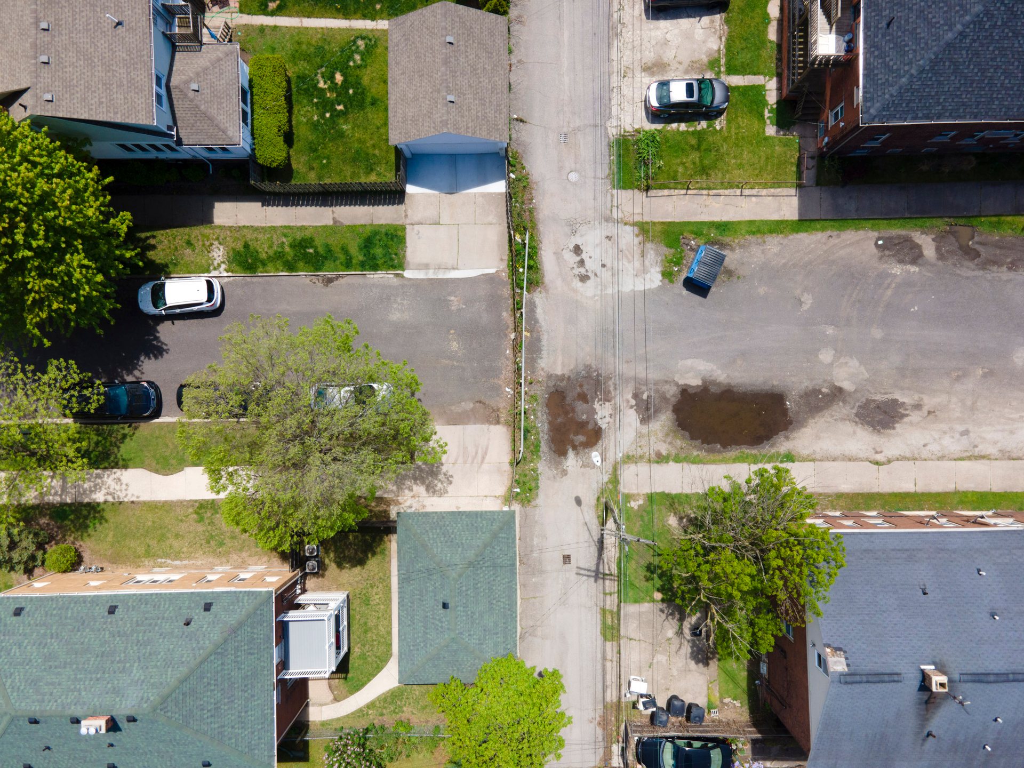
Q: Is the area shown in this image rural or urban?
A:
urban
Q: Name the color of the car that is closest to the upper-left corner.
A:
white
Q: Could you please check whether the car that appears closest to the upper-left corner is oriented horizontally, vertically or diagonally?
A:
horizontally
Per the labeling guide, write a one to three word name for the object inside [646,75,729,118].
car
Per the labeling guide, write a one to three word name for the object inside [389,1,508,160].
building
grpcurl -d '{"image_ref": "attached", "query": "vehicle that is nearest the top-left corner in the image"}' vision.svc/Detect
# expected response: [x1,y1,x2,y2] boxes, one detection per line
[138,275,220,315]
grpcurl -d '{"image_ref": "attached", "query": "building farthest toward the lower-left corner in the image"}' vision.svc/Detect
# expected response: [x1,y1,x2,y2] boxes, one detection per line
[0,568,306,768]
